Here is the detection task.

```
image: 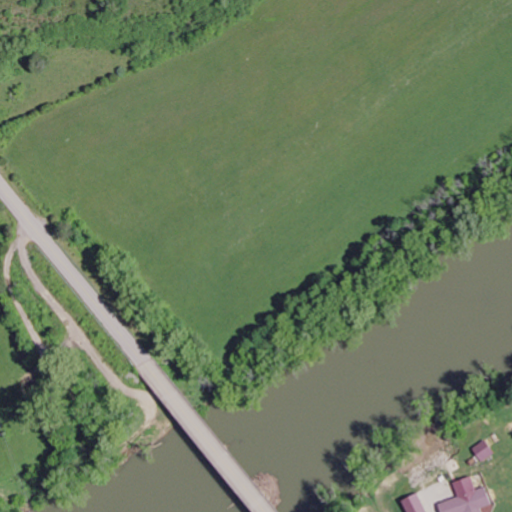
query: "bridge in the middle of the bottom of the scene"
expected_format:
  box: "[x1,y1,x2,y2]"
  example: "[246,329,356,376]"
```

[132,350,279,512]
